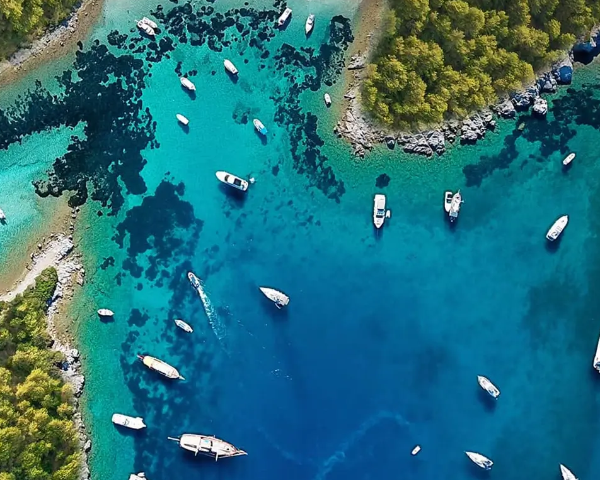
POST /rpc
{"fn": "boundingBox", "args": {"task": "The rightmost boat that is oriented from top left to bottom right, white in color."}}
[560,465,578,480]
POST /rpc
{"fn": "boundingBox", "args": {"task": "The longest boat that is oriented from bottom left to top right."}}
[547,216,569,243]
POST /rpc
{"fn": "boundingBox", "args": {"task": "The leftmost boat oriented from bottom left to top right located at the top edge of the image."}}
[279,6,293,25]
